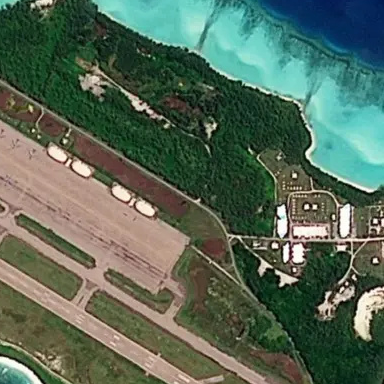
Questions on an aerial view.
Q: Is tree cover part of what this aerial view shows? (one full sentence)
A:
Yes, some tree cover is visible.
